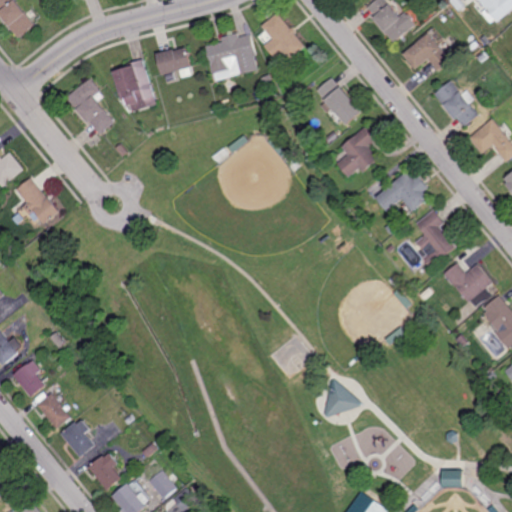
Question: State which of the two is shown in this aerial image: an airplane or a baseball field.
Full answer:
Of the two, only a baseball field appears.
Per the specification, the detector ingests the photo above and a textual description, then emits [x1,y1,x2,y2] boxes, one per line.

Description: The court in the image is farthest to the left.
[272,334,315,378]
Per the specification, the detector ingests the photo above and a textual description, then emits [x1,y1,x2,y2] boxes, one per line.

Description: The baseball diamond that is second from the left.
[338,280,408,344]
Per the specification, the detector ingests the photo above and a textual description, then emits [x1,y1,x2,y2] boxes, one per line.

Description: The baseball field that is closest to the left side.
[217,136,292,211]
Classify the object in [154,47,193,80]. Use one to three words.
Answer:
house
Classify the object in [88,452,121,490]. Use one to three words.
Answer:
house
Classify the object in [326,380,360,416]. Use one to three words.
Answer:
building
